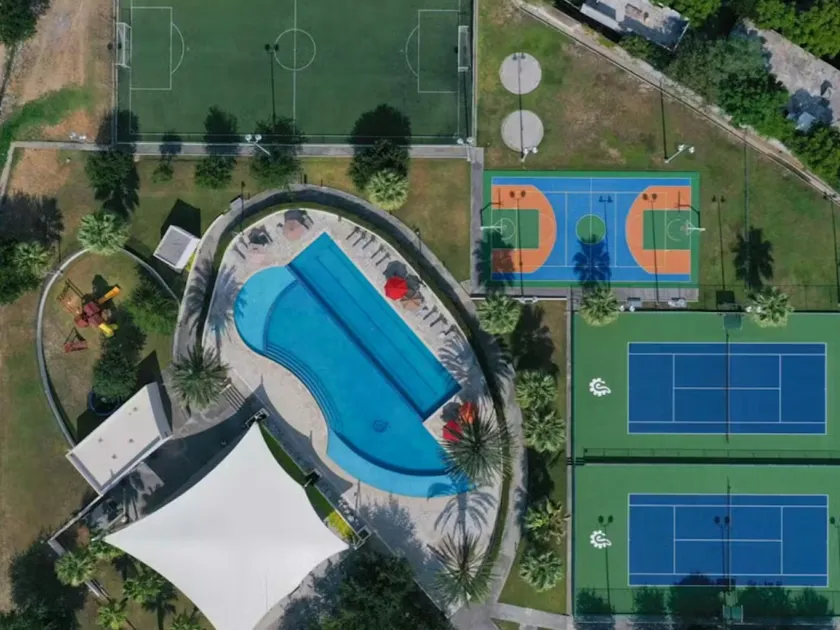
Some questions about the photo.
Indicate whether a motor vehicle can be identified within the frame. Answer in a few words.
No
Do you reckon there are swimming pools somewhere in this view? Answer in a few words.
Yes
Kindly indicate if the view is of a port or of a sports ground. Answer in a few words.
sports ground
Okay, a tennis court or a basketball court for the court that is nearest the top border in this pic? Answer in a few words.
basketball court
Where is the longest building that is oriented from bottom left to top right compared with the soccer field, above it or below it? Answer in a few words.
below it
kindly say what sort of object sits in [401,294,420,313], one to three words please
umbrella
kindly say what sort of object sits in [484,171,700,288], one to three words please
basketball court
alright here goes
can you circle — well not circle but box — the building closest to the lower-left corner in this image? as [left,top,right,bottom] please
[66,381,180,493]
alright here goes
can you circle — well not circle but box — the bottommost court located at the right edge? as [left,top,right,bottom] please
[575,463,840,623]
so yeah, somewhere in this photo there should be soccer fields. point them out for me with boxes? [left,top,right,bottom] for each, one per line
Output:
[116,0,473,146]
